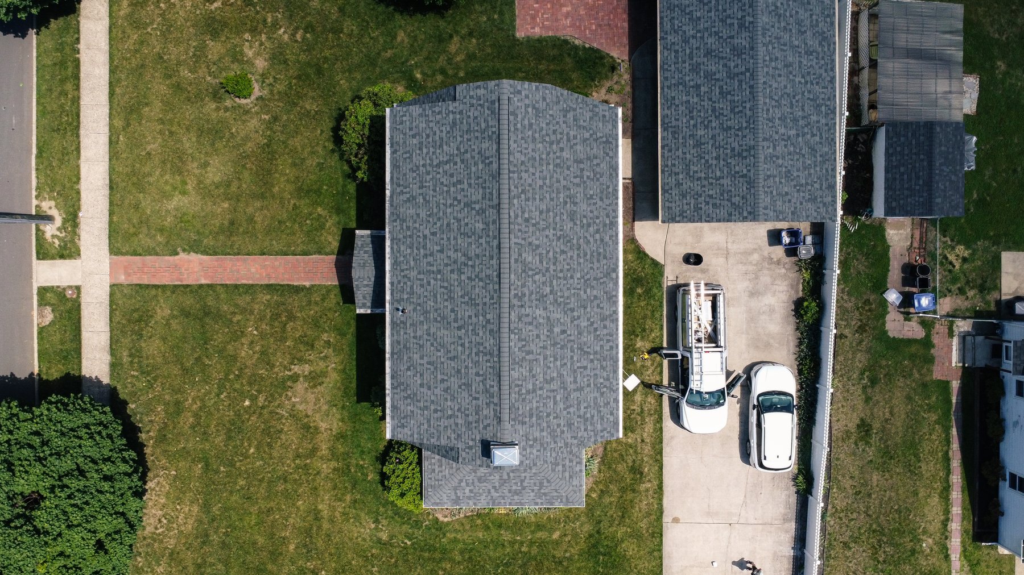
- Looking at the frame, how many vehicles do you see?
2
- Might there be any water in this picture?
No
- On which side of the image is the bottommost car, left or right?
right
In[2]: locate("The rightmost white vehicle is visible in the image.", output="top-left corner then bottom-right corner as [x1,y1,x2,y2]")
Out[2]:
[744,364,801,474]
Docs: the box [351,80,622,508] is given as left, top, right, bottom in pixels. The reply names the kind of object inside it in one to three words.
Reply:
house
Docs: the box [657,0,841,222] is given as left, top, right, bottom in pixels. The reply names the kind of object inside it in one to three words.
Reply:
building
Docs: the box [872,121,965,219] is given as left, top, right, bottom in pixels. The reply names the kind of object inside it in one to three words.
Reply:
shed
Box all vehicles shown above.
[650,283,745,434]
[744,364,801,474]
